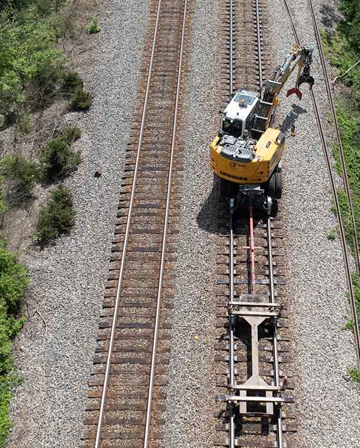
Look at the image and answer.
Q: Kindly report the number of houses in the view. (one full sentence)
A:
There are no houses in the image.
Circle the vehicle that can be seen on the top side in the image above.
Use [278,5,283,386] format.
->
[211,44,319,210]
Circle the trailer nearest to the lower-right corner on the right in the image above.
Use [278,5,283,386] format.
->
[226,204,290,422]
